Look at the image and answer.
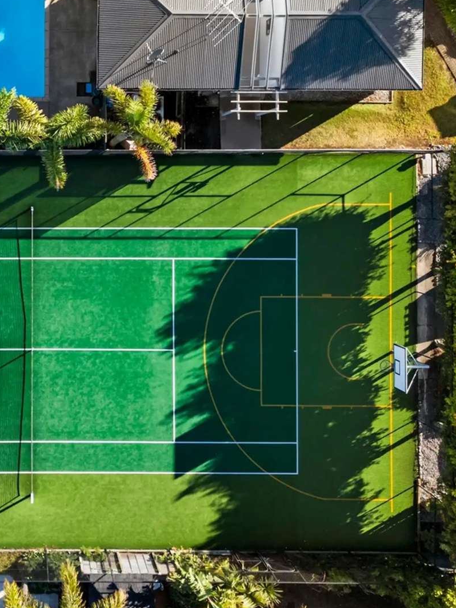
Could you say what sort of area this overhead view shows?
sports ground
